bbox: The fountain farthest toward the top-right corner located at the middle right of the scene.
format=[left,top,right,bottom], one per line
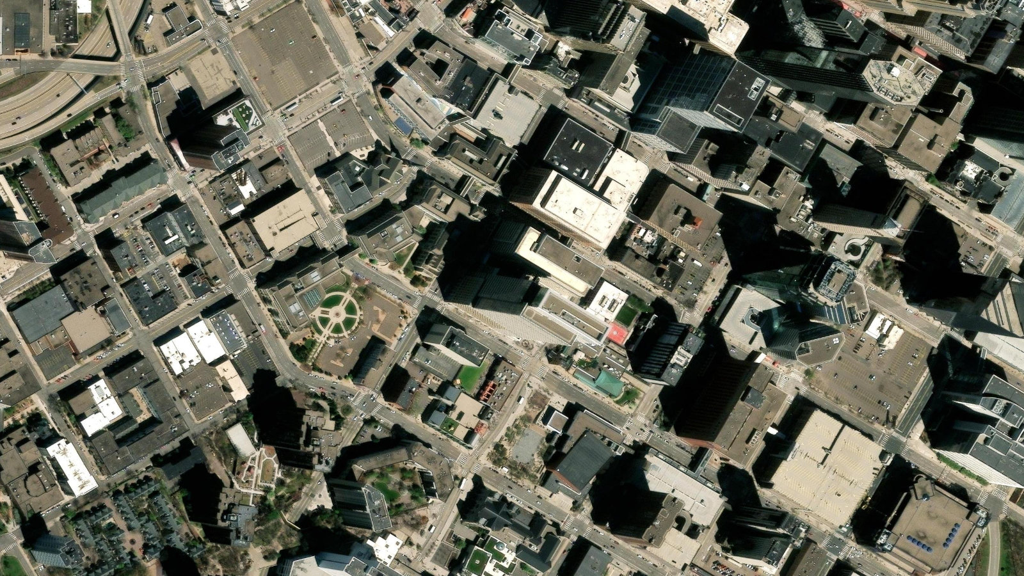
[844,239,865,259]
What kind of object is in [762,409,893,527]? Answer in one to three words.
building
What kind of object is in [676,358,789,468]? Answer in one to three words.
building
